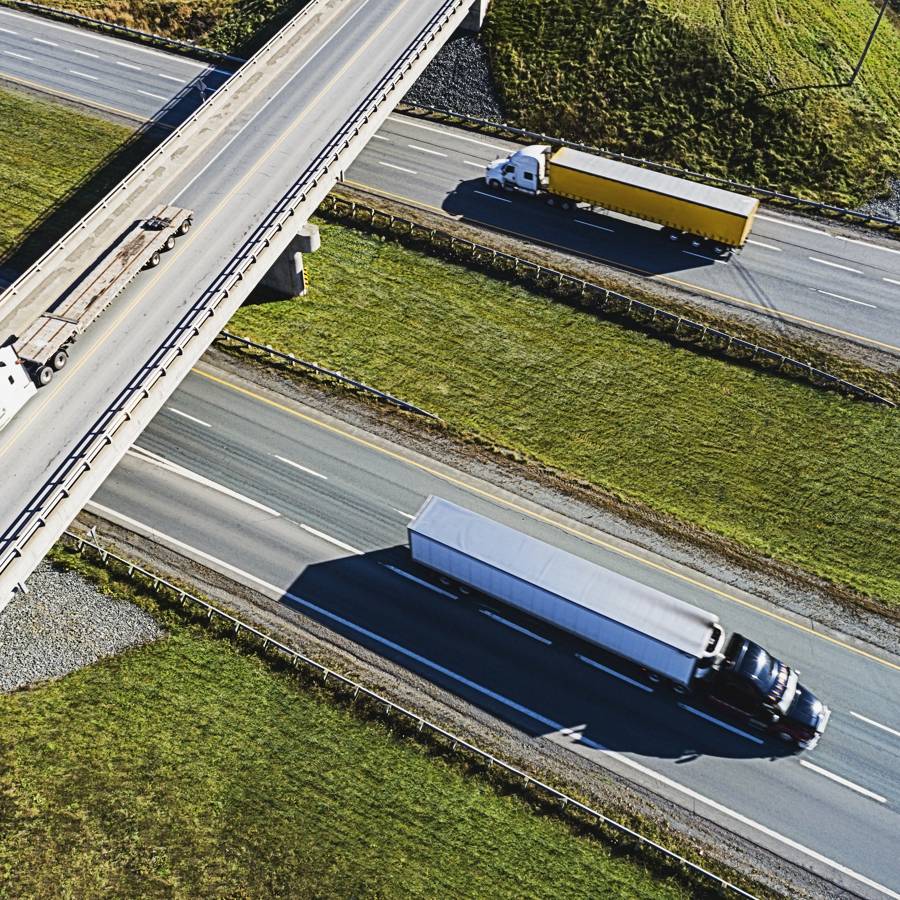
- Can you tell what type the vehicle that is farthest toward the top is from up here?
truck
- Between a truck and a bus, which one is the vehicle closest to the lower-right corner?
truck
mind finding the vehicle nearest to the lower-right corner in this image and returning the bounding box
[407,495,830,750]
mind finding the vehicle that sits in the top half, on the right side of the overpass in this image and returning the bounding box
[486,146,758,256]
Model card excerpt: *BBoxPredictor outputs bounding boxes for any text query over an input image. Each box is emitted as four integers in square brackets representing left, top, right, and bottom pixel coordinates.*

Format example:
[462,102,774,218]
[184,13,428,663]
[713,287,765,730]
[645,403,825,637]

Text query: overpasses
[0,0,502,601]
